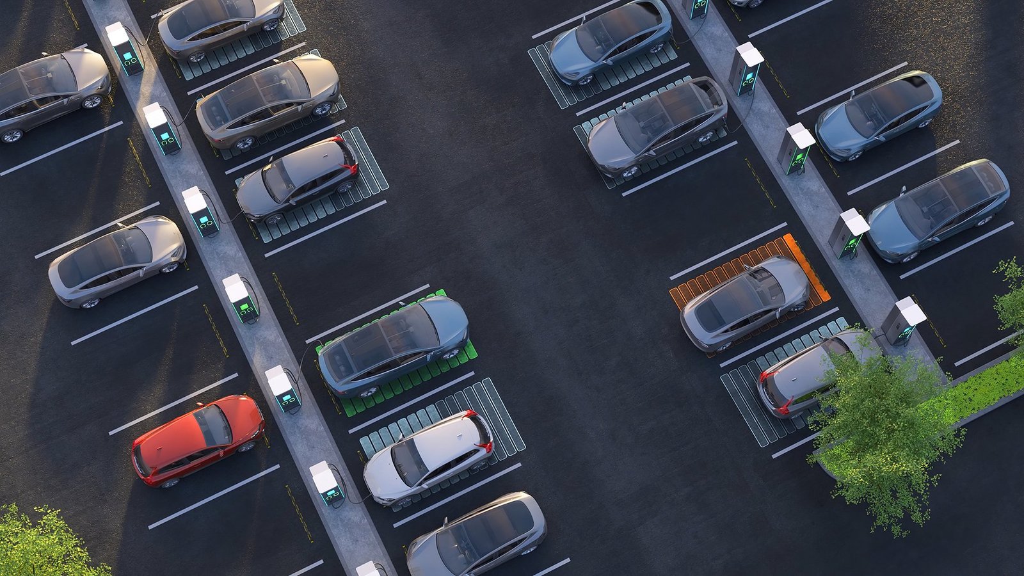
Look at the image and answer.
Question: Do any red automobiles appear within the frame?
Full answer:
Yes, this view includes a red automobile.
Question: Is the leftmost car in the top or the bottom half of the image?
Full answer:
The top half of the photo is where the leftmost car is.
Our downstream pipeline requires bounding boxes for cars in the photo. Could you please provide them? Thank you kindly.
[200,57,341,148]
[726,0,761,8]
[151,0,290,62]
[362,408,498,507]
[588,81,727,177]
[42,213,191,309]
[811,66,949,161]
[0,51,111,142]
[674,252,817,352]
[236,134,364,225]
[127,393,266,489]
[544,0,679,86]
[401,487,555,576]
[868,163,1008,262]
[321,297,470,396]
